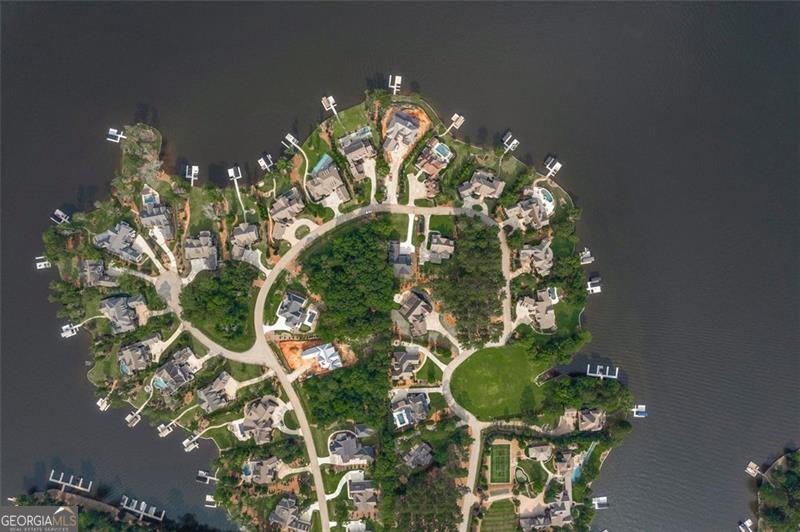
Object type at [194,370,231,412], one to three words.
house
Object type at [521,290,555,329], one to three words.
house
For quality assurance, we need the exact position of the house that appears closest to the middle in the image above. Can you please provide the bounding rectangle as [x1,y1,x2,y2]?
[388,239,412,277]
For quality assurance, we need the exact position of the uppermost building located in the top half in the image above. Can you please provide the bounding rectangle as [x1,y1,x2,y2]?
[380,108,421,152]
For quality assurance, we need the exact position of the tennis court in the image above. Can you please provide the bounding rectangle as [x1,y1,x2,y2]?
[489,443,512,484]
